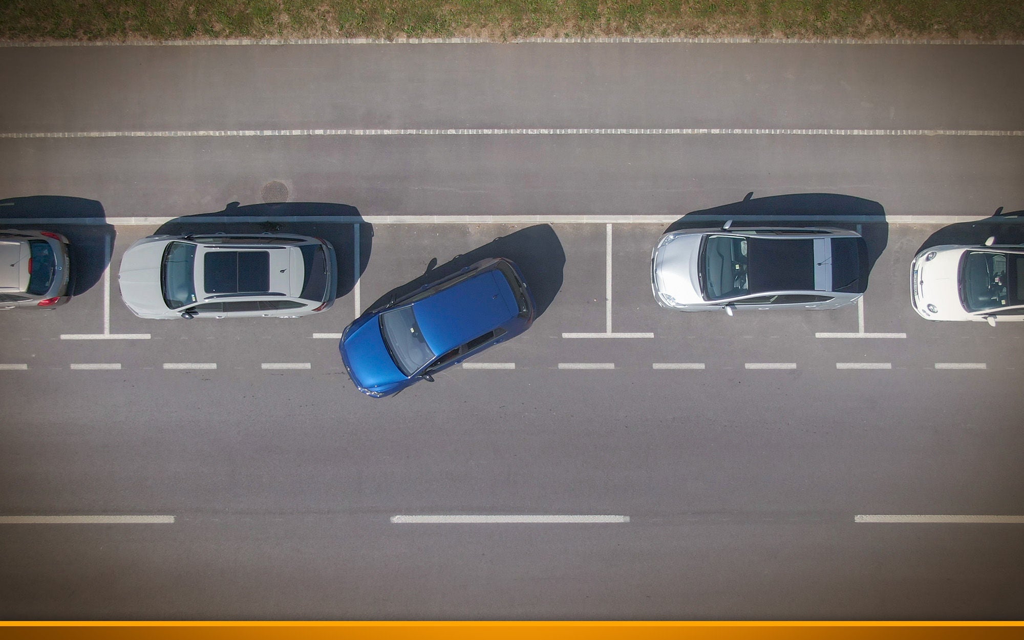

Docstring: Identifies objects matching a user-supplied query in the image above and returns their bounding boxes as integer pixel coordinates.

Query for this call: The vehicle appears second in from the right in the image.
[651,217,867,316]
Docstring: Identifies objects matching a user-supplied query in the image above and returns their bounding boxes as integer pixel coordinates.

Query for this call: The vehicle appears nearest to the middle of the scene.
[339,257,537,397]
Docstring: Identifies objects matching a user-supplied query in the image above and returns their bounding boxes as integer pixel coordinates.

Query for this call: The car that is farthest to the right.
[909,235,1024,326]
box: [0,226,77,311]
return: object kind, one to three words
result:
car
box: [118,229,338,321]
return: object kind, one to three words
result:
car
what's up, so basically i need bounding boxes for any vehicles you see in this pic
[339,257,537,397]
[909,235,1024,326]
[118,229,338,321]
[651,217,867,316]
[0,226,77,311]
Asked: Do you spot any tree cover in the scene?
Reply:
No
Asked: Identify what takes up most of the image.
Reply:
paved ground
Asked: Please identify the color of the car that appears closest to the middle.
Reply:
blue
